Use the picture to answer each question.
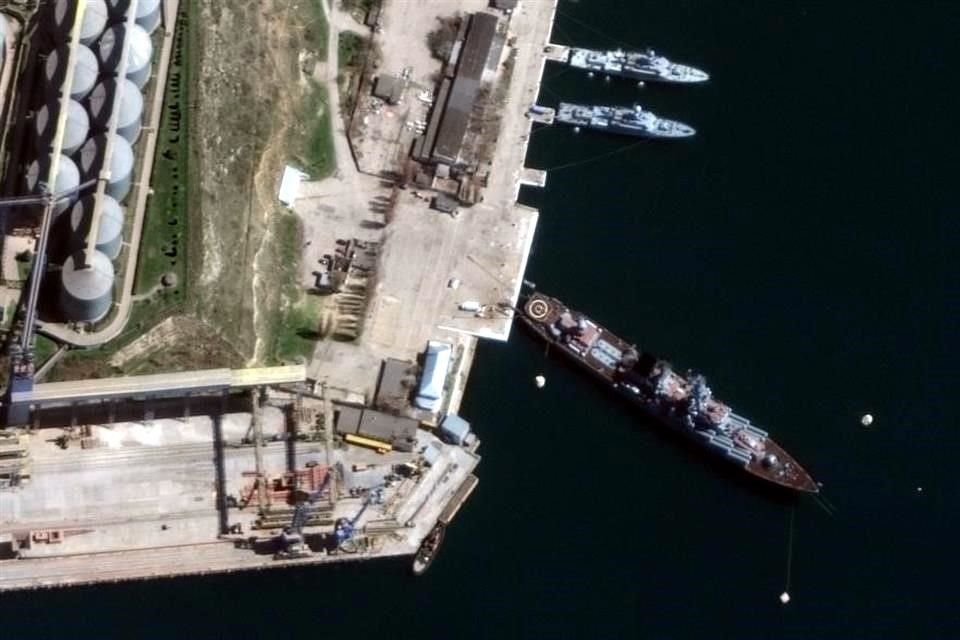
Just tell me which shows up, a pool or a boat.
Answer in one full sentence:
Looking from above, you can make out a boat.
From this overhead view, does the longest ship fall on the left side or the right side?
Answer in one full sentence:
The longest ship appears in the right half of the scene.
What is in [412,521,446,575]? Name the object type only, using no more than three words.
boat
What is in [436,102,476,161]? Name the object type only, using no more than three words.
building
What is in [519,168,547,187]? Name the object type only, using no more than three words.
pier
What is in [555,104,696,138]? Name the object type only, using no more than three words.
ship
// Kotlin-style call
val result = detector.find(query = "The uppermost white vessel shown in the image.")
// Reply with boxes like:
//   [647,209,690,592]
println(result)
[568,50,709,82]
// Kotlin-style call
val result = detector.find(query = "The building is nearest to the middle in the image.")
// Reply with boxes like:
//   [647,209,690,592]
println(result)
[416,341,452,402]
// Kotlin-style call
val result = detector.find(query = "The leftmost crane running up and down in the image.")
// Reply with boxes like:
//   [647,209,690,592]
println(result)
[248,390,278,537]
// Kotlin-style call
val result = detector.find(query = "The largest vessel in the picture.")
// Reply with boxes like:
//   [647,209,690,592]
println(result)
[519,292,818,491]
